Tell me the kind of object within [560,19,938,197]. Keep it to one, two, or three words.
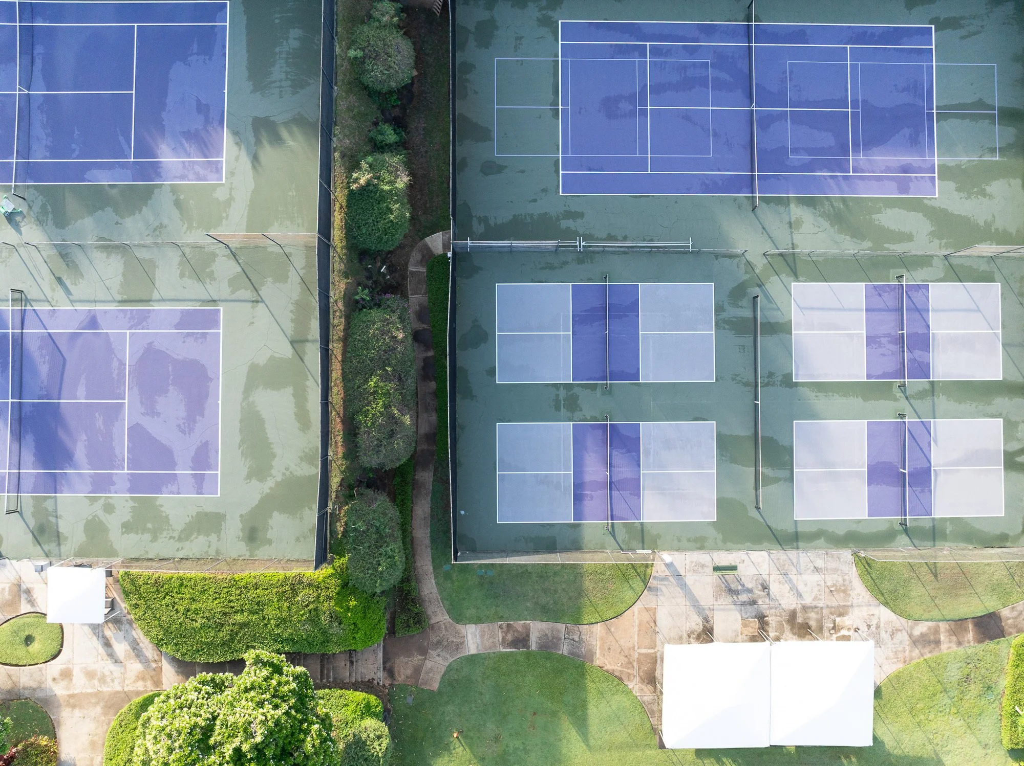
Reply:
tennis court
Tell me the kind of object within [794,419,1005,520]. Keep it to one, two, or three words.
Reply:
sports court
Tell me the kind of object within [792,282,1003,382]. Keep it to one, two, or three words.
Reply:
sports court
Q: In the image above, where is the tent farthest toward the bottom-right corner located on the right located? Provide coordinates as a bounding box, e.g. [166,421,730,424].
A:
[758,628,874,748]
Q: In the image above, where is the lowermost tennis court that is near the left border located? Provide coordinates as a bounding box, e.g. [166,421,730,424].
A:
[0,307,223,497]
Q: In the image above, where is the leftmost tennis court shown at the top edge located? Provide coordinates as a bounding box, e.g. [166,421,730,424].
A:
[0,0,228,184]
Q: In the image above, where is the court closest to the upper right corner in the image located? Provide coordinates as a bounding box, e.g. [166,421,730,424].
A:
[788,61,999,159]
